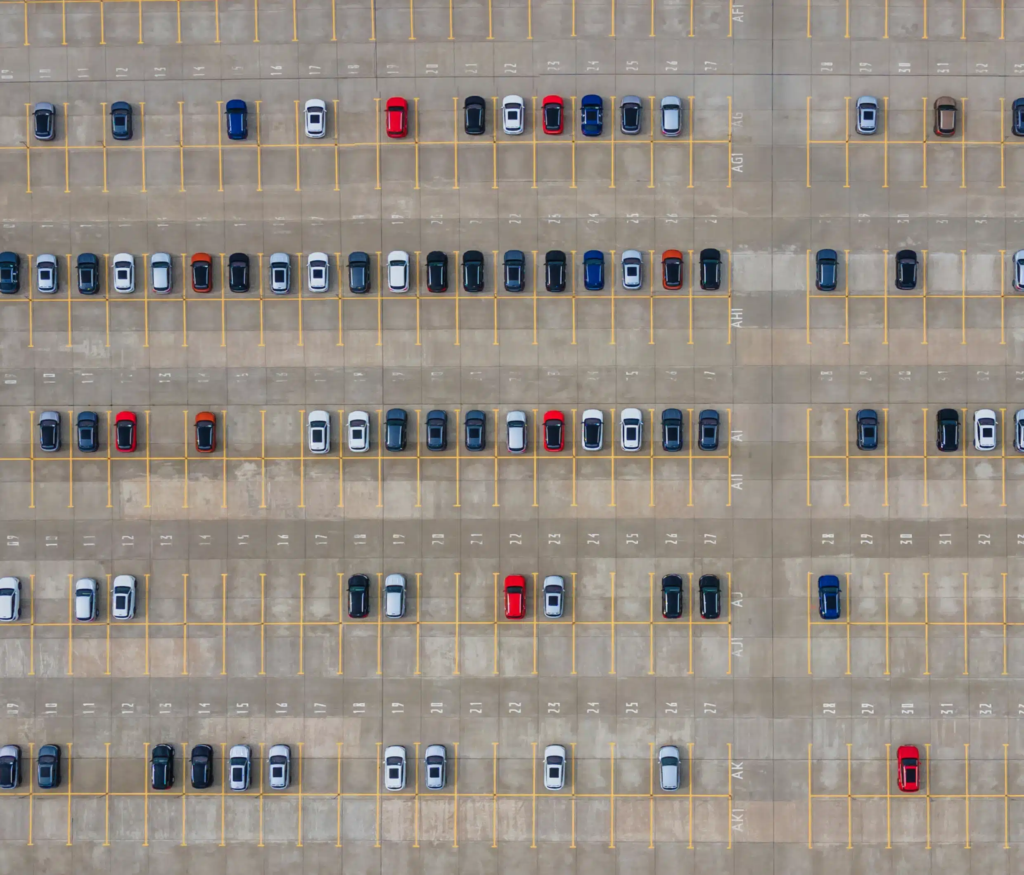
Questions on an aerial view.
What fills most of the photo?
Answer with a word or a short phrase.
paved ground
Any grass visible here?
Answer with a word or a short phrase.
No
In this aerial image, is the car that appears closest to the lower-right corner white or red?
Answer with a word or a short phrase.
red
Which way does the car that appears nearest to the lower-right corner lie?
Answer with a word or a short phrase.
vertically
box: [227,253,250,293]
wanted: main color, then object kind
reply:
black car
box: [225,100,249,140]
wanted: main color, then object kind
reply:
blue car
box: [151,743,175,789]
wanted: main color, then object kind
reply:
black car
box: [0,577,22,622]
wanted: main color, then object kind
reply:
white car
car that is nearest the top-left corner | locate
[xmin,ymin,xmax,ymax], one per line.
[32,103,57,141]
